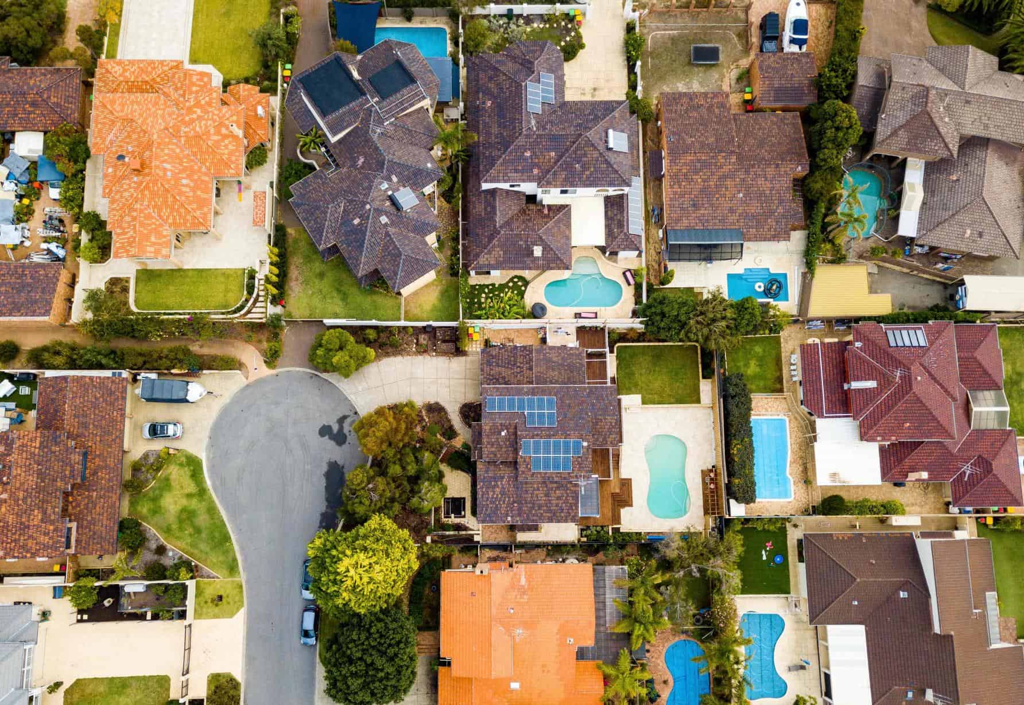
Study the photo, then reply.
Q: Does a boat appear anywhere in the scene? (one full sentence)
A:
Yes, I can see a boat in this picture.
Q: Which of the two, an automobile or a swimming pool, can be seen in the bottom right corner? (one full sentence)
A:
You can see a swimming pool in the bottom right corner.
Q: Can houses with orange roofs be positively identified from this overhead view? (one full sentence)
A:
Yes, there's a house with an orange roof down there.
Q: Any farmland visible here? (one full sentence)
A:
No, no farmland is visible.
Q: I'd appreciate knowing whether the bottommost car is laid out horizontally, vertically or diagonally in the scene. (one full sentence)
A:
In this picture, the bottommost car lies vertically.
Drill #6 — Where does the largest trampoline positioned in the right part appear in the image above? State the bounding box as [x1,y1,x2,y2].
[692,43,721,62]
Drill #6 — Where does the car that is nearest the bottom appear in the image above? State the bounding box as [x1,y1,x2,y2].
[299,604,319,647]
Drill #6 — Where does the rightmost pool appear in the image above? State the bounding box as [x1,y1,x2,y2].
[836,165,886,241]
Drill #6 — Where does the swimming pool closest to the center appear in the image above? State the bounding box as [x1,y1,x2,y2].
[541,253,626,310]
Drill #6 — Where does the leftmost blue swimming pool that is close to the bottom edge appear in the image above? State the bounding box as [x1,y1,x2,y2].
[662,637,712,705]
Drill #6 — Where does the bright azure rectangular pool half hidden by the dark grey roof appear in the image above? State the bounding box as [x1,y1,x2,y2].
[374,23,450,57]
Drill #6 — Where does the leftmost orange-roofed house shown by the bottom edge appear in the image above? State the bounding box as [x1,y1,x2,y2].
[437,561,605,705]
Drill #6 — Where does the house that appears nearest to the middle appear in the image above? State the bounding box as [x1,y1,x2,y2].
[470,345,623,524]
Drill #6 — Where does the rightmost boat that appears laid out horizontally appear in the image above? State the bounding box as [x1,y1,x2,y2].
[129,376,215,403]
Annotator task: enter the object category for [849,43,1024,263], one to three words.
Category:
house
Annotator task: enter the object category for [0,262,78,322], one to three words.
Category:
shed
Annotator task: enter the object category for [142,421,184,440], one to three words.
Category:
car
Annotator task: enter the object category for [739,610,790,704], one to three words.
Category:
swimming pool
